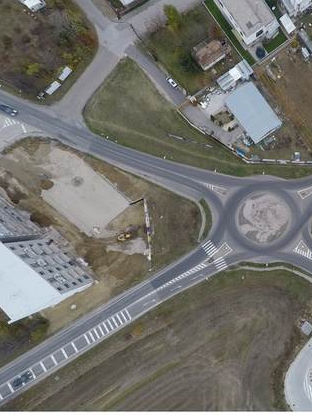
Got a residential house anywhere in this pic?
Yes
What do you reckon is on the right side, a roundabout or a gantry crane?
roundabout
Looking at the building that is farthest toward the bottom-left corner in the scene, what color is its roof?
white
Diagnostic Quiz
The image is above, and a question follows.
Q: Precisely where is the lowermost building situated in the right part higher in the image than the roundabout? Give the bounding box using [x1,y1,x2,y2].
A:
[224,81,281,147]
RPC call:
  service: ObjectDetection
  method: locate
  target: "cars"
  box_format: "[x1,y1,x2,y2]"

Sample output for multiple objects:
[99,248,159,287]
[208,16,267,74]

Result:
[13,371,34,387]
[165,76,179,90]
[0,104,19,116]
